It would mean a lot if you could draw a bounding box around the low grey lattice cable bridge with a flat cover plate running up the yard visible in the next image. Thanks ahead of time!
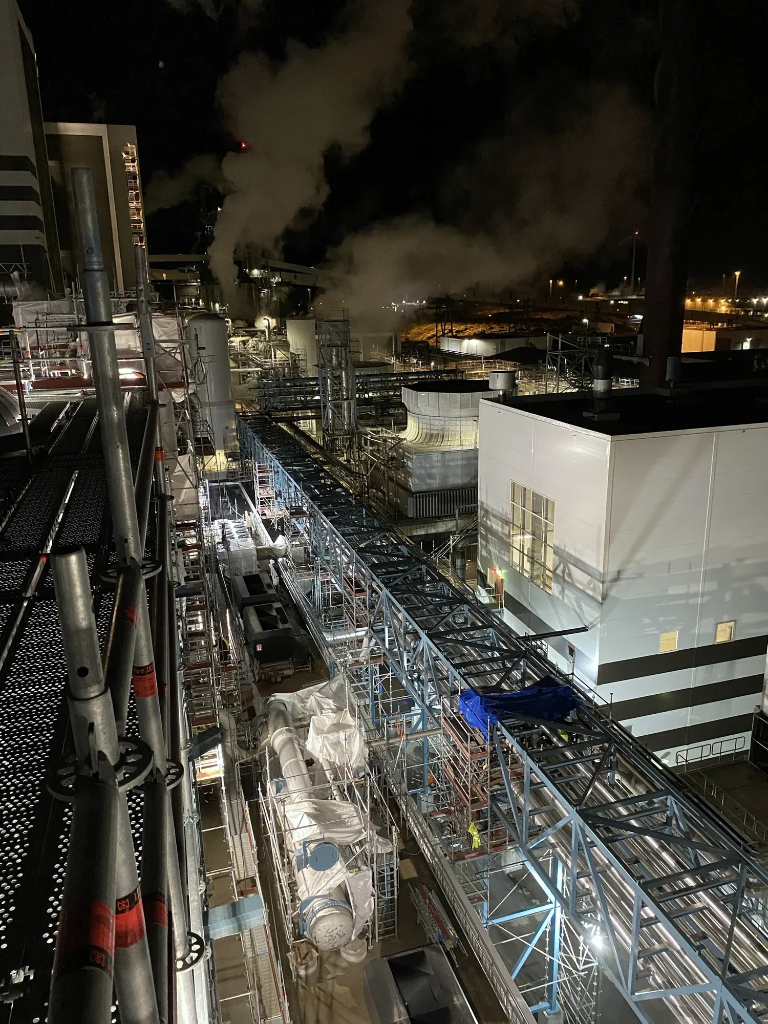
[275,558,538,1024]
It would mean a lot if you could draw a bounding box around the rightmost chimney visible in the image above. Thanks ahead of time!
[608,0,714,384]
